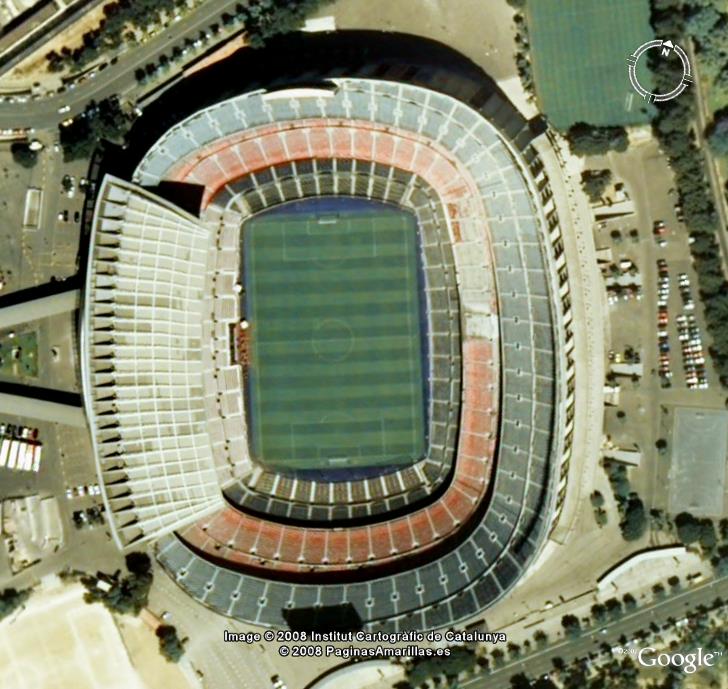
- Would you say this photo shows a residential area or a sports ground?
sports ground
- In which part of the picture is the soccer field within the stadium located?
center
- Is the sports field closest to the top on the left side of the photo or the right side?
right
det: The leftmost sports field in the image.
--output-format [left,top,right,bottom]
[0,590,140,689]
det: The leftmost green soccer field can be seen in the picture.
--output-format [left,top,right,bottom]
[250,210,424,469]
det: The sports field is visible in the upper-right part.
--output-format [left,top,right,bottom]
[528,0,655,128]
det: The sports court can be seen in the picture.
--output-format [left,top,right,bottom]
[670,407,728,518]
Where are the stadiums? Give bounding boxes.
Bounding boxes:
[74,63,583,646]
